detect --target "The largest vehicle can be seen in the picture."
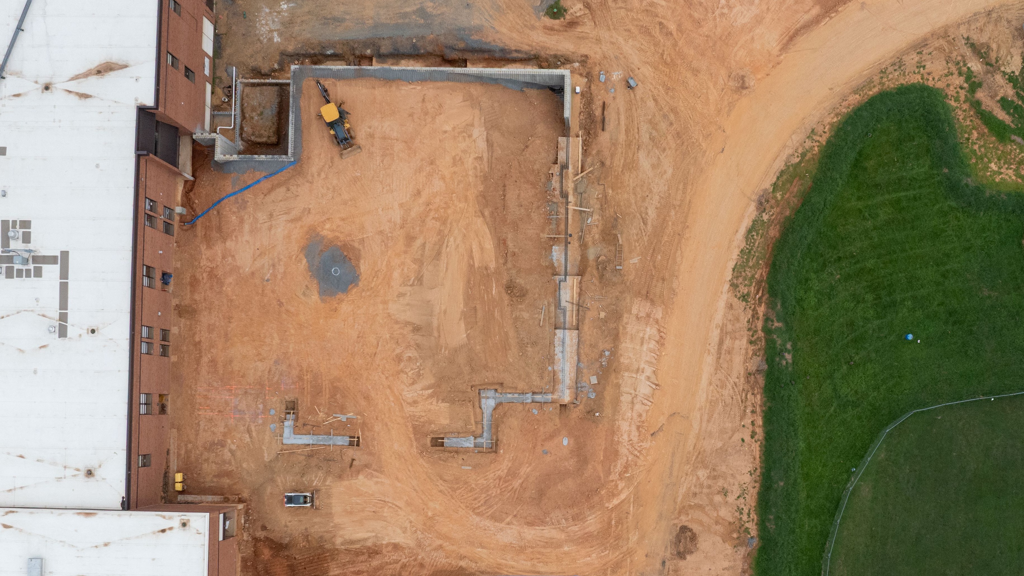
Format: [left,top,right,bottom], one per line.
[313,79,365,160]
